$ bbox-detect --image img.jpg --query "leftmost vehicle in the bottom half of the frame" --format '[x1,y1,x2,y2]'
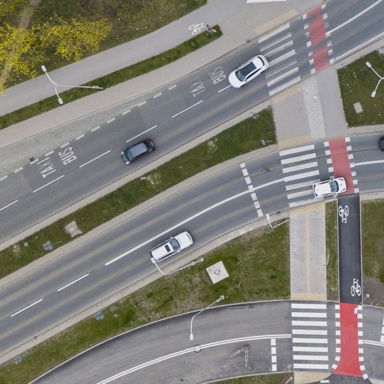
[150,230,195,263]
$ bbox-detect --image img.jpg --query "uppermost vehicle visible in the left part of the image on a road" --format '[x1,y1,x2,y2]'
[120,138,158,164]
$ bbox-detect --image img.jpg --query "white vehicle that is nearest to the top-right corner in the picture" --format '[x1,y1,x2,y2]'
[229,56,269,88]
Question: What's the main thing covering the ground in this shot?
paved ground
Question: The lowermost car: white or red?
white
